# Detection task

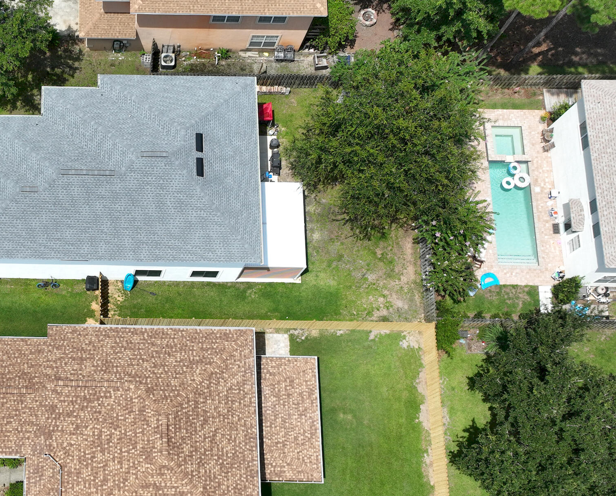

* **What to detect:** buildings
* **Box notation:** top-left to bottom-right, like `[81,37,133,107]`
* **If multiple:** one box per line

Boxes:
[0,324,325,496]
[551,78,616,286]
[77,0,328,54]
[0,74,308,280]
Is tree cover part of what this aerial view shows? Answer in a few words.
Yes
